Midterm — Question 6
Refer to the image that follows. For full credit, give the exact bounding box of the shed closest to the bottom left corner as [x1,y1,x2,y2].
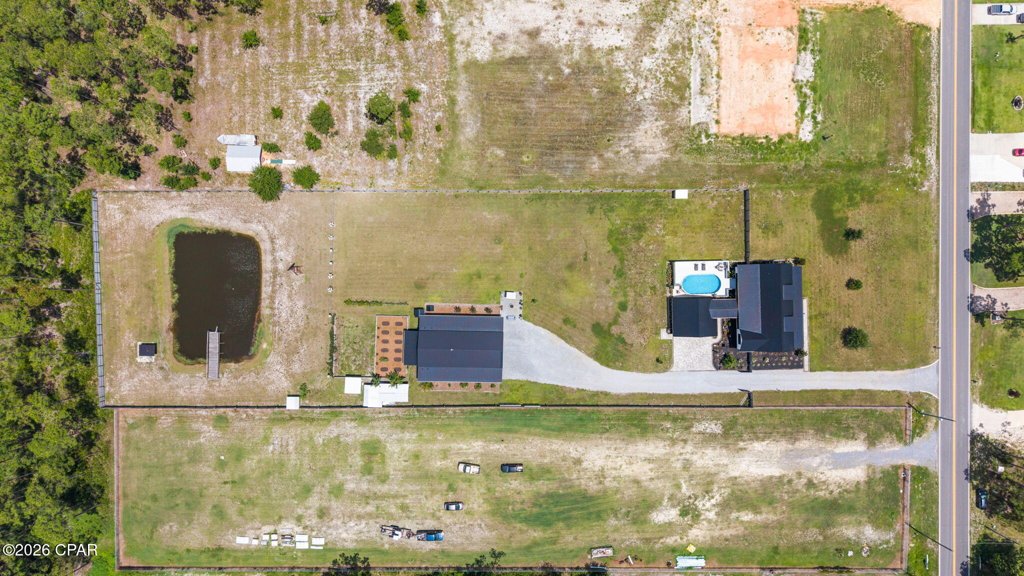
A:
[138,342,159,361]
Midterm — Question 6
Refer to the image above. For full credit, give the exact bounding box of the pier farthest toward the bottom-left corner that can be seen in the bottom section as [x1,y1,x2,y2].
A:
[205,327,225,377]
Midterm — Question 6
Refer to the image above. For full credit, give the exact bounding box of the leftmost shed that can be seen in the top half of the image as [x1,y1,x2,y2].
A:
[227,146,265,173]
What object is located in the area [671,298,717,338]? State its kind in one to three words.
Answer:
building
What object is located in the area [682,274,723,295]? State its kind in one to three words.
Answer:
swimming pool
